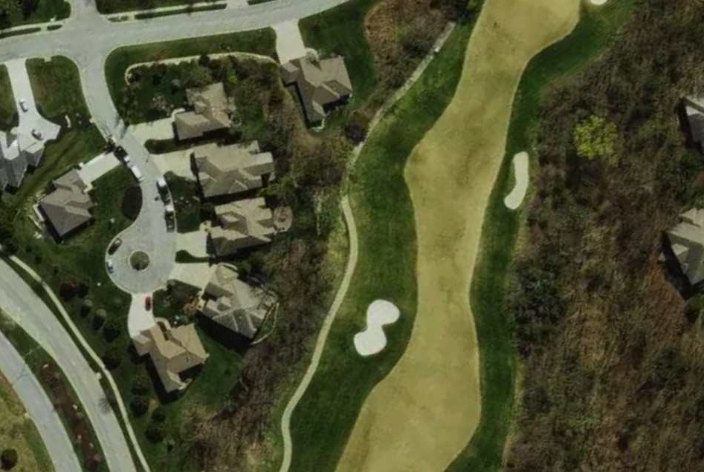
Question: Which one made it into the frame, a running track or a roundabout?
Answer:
roundabout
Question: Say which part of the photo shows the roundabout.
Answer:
left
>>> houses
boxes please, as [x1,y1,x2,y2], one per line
[279,52,355,121]
[172,79,235,138]
[204,195,275,256]
[669,205,704,288]
[0,130,44,189]
[129,321,207,393]
[194,139,278,195]
[199,262,276,337]
[37,169,100,237]
[681,89,704,159]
